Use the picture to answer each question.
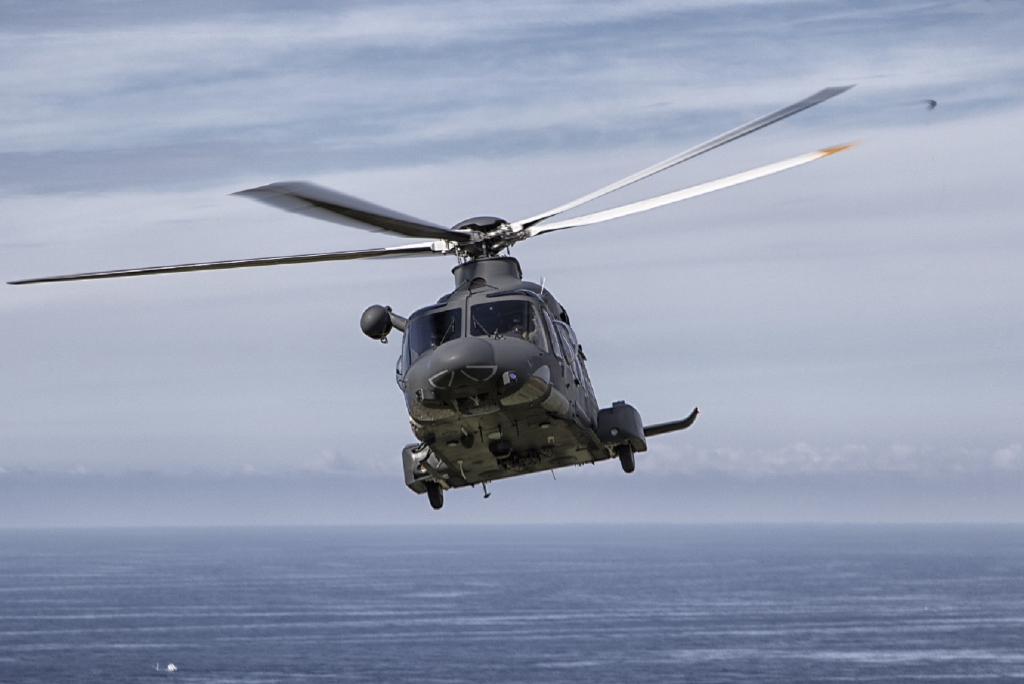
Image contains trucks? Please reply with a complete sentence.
No, the scene contains no truck.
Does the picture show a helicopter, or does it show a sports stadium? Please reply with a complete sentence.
There is a helicopter in the scene.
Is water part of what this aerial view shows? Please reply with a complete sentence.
Yes, there is water in the image.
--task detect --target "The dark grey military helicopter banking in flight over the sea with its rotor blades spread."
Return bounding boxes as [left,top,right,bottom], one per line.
[13,91,871,509]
